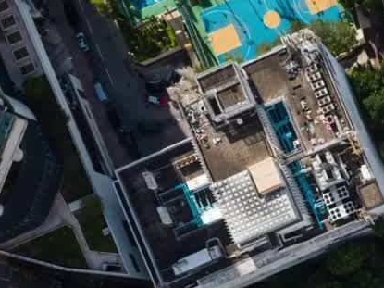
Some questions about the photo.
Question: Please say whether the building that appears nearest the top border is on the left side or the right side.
left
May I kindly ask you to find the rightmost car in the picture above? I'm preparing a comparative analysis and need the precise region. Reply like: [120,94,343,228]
[146,93,170,106]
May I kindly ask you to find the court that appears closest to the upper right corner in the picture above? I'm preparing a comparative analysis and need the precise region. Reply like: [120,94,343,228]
[190,0,353,64]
